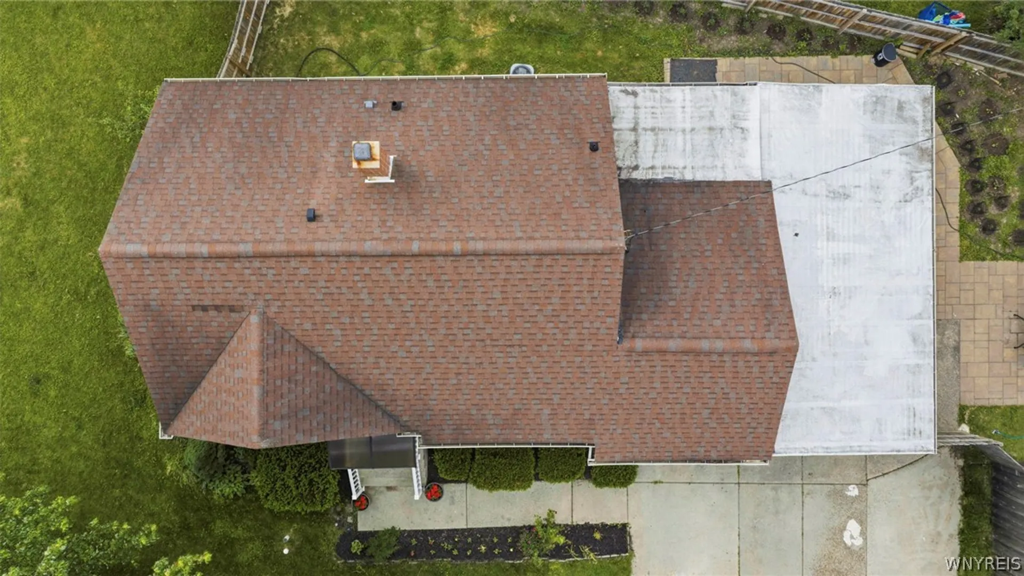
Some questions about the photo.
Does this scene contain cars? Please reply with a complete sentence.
No, there appears to be no car in this shot.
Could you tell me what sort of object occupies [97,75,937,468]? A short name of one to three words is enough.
house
